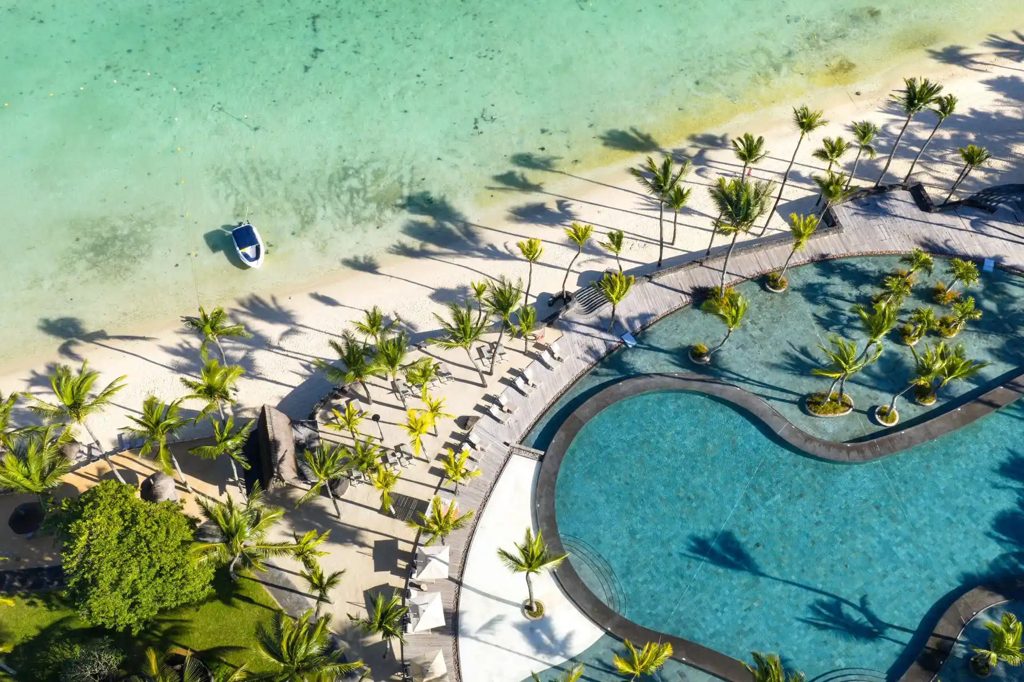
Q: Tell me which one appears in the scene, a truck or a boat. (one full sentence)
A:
Looking from above, you can make out a boat.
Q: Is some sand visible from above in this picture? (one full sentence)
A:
Yes, some sand is visible.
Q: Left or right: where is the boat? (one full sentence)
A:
The boat is on the left side of the image.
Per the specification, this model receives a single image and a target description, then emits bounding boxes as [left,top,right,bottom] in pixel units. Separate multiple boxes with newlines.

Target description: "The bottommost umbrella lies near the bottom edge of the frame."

[409,648,451,682]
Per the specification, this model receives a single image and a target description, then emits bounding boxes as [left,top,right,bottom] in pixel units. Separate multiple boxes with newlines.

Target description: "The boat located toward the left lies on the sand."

[232,227,265,274]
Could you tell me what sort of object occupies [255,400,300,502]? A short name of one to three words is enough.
building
